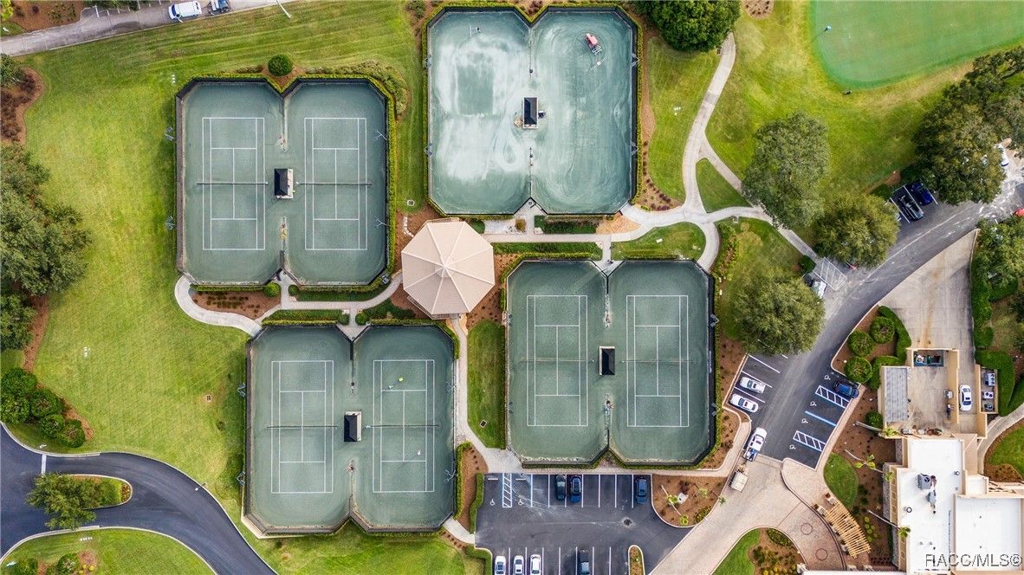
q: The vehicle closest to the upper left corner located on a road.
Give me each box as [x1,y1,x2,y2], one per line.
[167,0,203,20]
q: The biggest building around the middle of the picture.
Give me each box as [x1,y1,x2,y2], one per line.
[402,217,495,320]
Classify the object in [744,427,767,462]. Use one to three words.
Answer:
truck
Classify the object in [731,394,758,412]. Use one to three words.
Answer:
car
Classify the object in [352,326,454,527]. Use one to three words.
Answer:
tennis court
